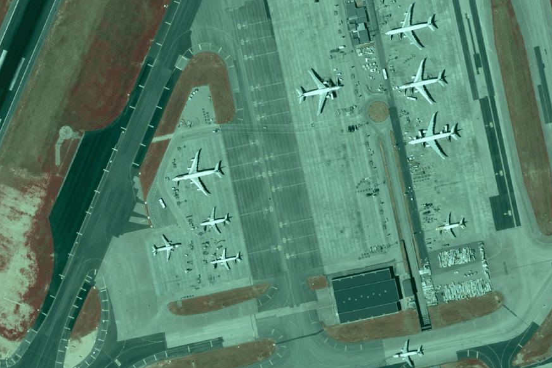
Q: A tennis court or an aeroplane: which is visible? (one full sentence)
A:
The one in the frame is an aeroplane.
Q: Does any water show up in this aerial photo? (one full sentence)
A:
No, there is no water in the image.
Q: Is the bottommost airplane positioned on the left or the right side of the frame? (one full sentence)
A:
The bottommost airplane is on the right side of the image.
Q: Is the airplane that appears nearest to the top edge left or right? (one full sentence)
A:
The airplane that appears nearest to the top edge is on the right side of the image.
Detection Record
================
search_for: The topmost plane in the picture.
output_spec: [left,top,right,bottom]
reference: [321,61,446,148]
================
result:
[385,1,438,50]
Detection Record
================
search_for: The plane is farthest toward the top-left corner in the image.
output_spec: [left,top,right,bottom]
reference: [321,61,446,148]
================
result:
[172,149,225,197]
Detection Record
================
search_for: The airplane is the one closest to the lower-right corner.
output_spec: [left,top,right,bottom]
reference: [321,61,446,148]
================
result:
[394,339,425,366]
